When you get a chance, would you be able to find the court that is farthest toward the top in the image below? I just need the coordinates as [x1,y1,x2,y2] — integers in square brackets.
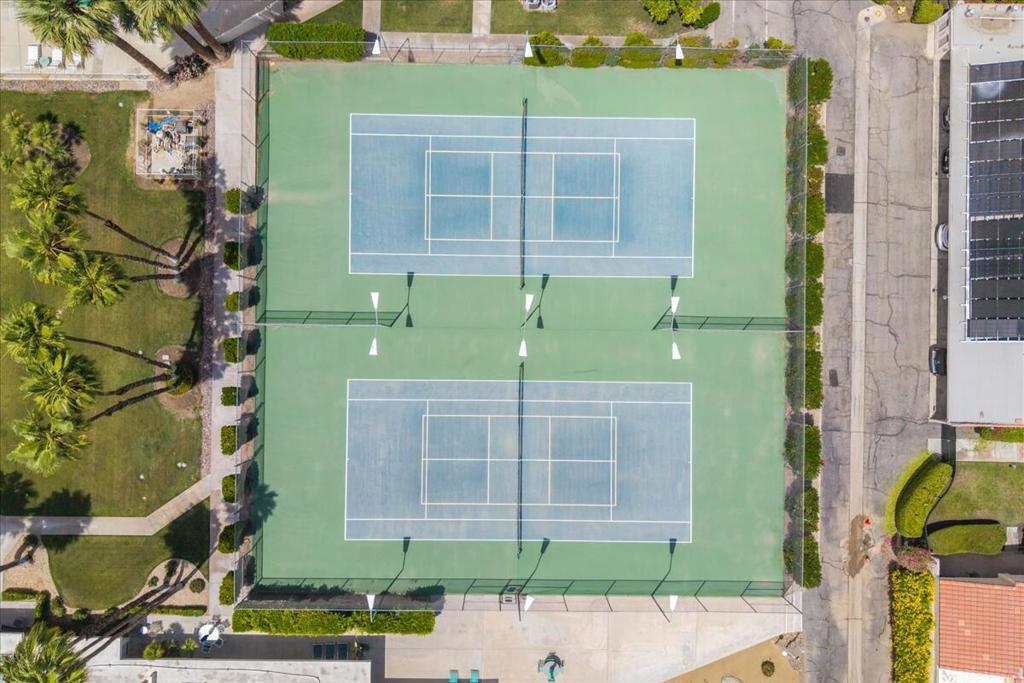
[254,61,787,331]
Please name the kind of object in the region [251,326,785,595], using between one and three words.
tennis court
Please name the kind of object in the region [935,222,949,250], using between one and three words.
car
